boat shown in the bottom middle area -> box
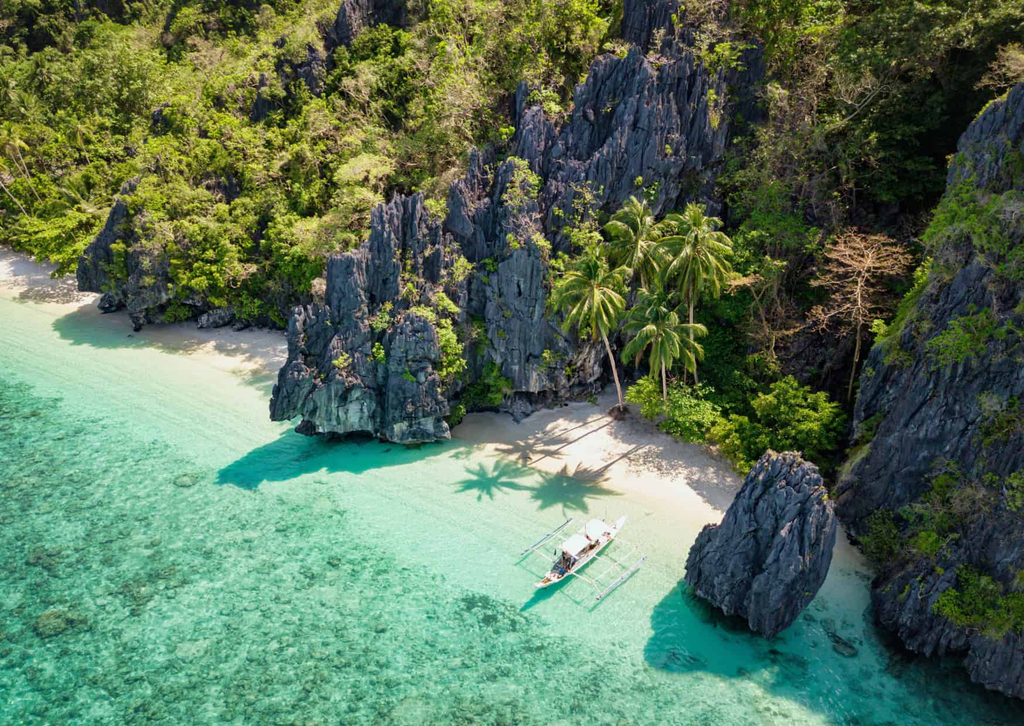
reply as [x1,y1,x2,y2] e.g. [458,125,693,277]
[519,492,650,599]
